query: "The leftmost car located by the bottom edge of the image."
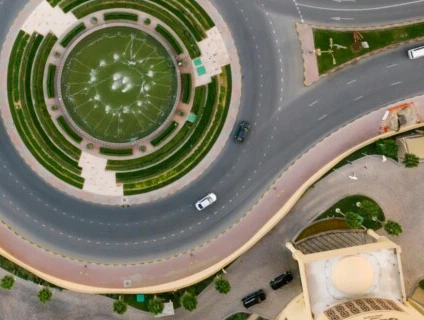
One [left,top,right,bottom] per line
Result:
[240,288,267,309]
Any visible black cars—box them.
[234,120,251,144]
[240,288,267,309]
[268,270,294,291]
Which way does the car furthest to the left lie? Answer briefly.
at an angle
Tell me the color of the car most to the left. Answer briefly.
white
